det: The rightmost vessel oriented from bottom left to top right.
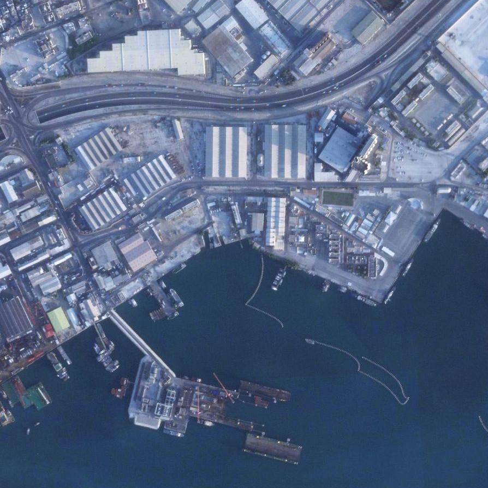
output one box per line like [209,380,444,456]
[422,218,440,243]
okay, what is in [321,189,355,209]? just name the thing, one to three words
sports field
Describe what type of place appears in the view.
port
